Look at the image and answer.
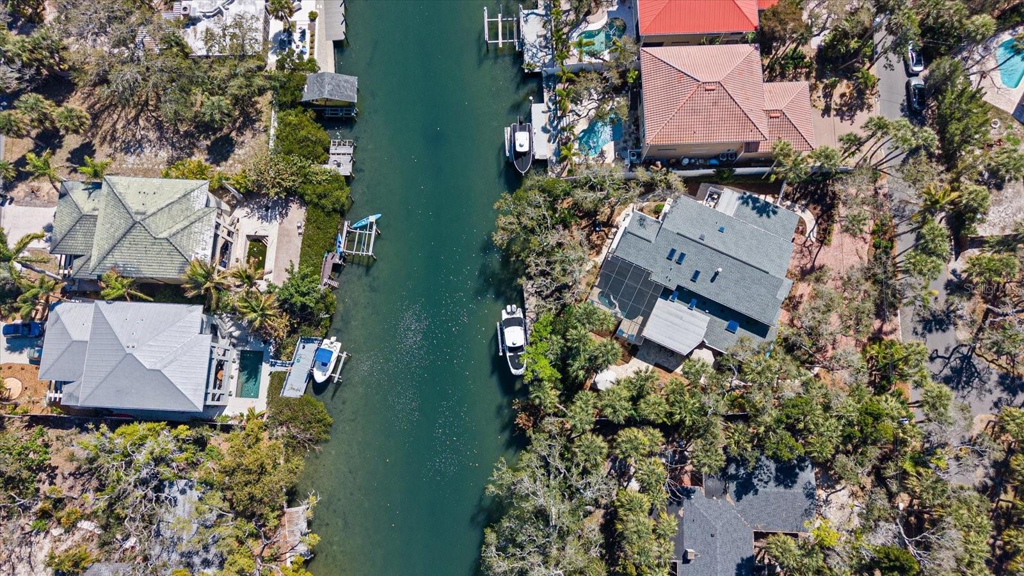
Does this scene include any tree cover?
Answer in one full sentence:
Yes, the picture does contain tree cover.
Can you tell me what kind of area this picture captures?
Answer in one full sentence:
The picture captures a residential area.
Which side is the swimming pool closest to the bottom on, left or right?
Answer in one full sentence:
You can find the swimming pool closest to the bottom on the left side of the picture.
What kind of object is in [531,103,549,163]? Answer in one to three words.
pier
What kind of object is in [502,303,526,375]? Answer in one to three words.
boat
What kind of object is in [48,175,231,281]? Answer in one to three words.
house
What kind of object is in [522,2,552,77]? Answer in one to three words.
pier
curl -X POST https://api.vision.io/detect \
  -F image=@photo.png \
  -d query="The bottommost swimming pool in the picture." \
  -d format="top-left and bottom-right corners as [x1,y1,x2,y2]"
[233,348,265,400]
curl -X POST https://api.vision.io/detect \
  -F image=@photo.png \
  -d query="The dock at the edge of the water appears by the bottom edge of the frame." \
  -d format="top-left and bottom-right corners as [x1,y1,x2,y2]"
[284,506,318,563]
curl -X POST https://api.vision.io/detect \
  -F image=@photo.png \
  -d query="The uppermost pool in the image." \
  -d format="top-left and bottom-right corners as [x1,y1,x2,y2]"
[573,11,633,61]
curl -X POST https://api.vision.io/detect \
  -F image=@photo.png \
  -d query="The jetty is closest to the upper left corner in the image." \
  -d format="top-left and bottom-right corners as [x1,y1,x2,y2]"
[325,0,345,42]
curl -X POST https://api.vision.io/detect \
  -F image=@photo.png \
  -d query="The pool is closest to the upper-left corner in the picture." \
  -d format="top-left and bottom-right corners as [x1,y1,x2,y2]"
[242,233,270,274]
